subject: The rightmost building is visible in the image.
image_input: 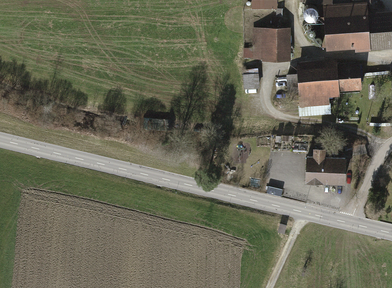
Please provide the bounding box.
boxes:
[370,8,392,50]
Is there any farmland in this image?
Yes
